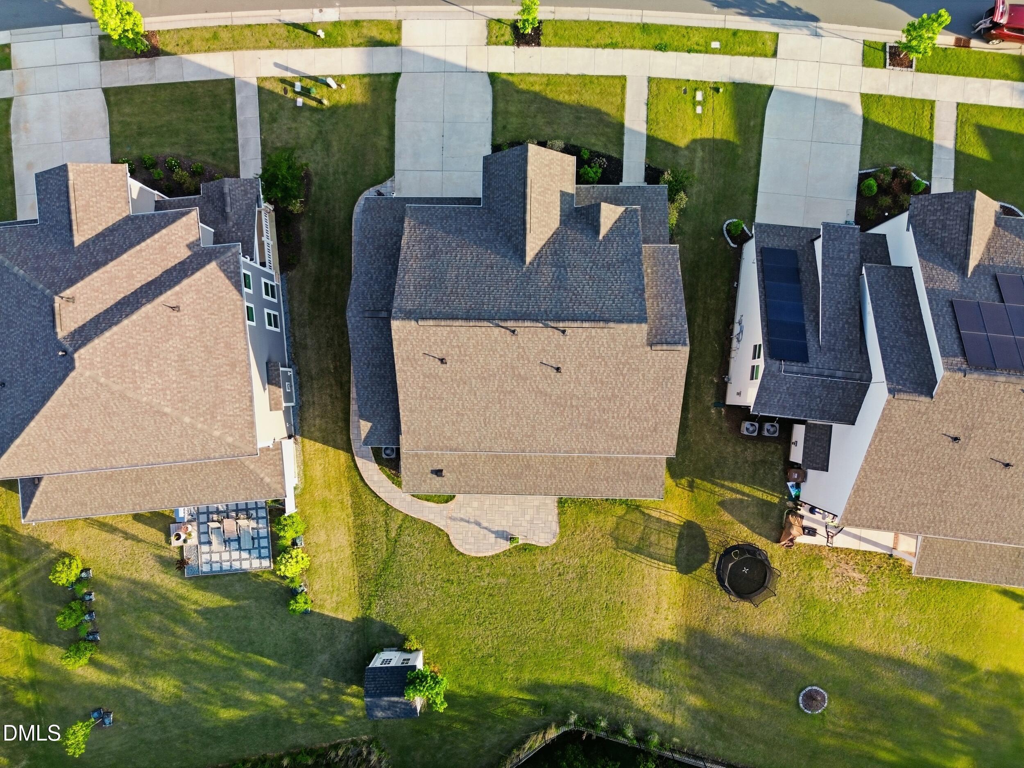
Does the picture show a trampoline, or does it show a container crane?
trampoline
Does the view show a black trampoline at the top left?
No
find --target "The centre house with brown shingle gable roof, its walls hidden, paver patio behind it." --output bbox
[347,143,690,500]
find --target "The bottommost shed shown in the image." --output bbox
[364,647,422,720]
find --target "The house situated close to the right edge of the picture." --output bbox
[721,190,1024,589]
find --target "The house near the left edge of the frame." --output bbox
[0,163,299,524]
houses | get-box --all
[721,190,1024,589]
[347,143,690,500]
[0,163,299,524]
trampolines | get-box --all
[710,538,782,606]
